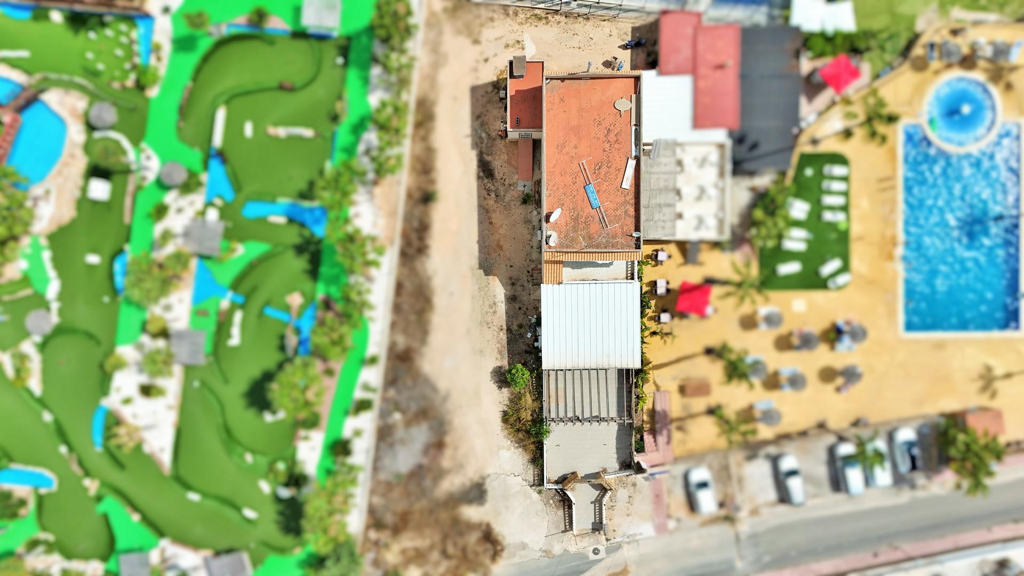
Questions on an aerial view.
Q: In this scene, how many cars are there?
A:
five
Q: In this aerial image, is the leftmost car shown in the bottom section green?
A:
No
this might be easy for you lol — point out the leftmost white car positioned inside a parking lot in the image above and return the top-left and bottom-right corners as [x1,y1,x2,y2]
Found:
[686,464,716,513]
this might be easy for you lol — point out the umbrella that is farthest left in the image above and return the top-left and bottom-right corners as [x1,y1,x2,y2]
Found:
[29,308,56,336]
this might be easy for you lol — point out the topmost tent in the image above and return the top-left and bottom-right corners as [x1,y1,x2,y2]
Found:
[790,0,857,39]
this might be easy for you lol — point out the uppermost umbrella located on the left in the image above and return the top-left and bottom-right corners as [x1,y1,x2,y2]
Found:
[90,101,120,130]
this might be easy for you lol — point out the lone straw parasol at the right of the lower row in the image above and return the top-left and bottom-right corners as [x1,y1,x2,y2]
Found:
[838,362,862,387]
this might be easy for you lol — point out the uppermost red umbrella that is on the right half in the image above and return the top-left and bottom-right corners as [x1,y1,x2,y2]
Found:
[818,53,861,95]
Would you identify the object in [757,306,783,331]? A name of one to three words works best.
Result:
umbrella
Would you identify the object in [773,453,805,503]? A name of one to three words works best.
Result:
car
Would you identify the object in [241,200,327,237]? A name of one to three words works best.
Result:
pond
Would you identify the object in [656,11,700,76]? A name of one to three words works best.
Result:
shed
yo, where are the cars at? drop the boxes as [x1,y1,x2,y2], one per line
[773,453,805,503]
[859,437,890,486]
[686,464,716,513]
[831,441,862,492]
[889,424,920,473]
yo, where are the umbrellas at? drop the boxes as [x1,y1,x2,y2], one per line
[757,306,783,331]
[90,101,120,130]
[29,308,56,336]
[676,282,712,317]
[840,320,865,344]
[838,362,862,387]
[162,162,189,188]
[938,41,962,66]
[779,367,804,392]
[818,53,861,95]
[987,40,1013,65]
[755,401,779,426]
[793,327,817,351]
